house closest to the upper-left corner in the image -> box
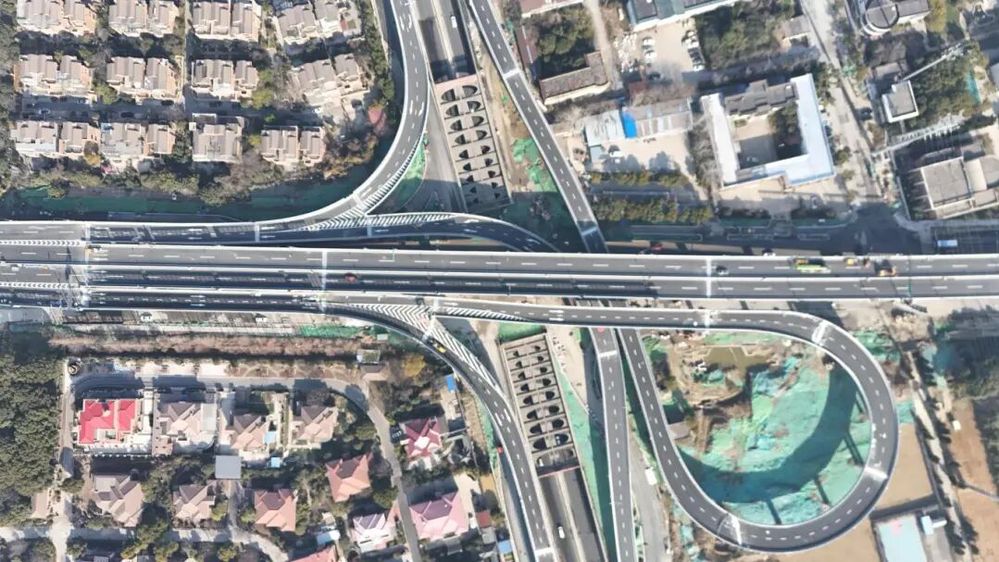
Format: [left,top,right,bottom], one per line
[19,0,75,40]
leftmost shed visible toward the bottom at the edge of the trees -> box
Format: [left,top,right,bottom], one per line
[30,488,52,518]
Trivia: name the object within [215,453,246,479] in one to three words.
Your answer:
shed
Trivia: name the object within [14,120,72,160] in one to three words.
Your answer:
house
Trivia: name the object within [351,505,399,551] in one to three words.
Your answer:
house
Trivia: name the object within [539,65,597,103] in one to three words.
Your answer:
building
